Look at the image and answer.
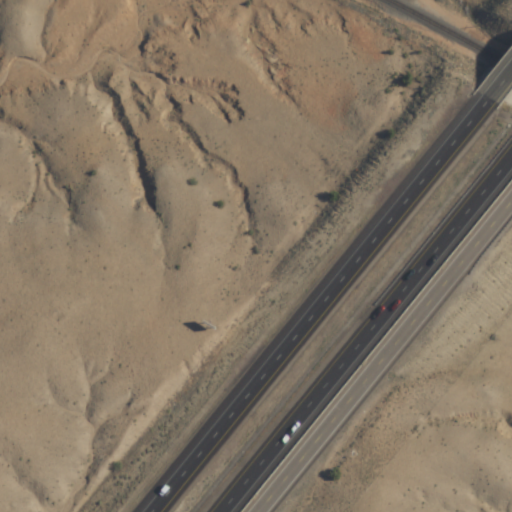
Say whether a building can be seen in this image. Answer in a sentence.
No, the photo shows no building.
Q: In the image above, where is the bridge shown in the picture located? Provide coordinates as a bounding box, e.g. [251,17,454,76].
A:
[476,45,512,104]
